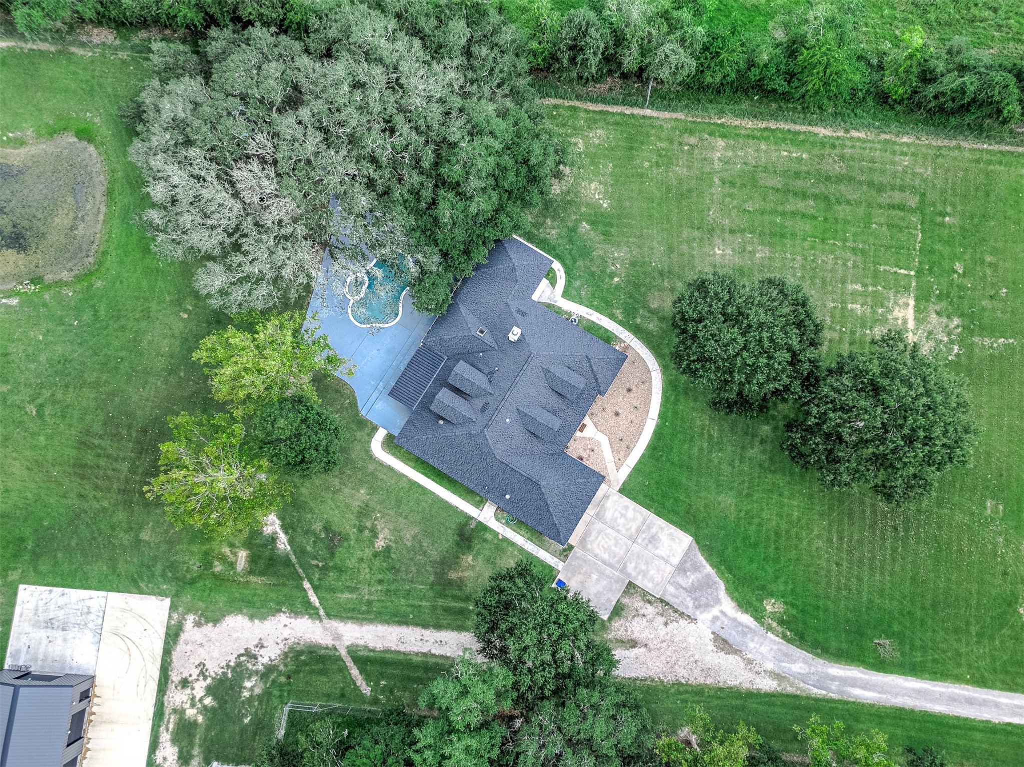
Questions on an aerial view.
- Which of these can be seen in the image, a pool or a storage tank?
pool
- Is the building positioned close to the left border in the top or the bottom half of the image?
bottom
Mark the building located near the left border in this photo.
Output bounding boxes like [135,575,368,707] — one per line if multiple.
[0,663,95,767]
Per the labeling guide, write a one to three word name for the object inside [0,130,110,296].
pond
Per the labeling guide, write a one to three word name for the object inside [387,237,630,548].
house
